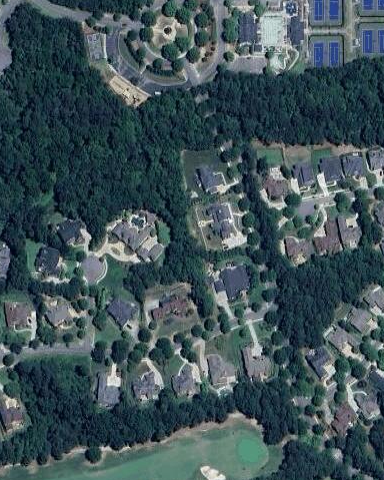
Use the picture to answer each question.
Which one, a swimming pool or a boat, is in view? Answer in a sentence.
There is a swimming pool in the scene.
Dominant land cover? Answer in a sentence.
The bulk of the photo consists of trees.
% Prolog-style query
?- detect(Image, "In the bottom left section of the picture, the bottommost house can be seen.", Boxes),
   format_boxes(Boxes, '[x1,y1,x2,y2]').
[0,398,25,432]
